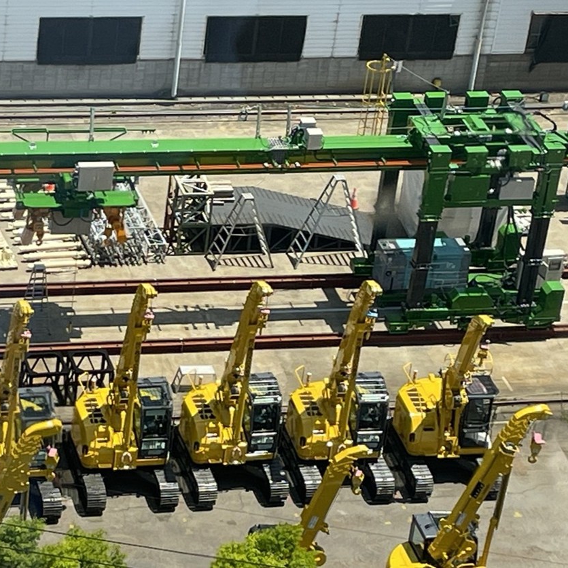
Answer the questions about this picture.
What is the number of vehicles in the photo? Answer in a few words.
0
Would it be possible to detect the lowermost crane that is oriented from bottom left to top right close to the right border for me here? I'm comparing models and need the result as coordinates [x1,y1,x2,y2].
[391,414,556,568]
